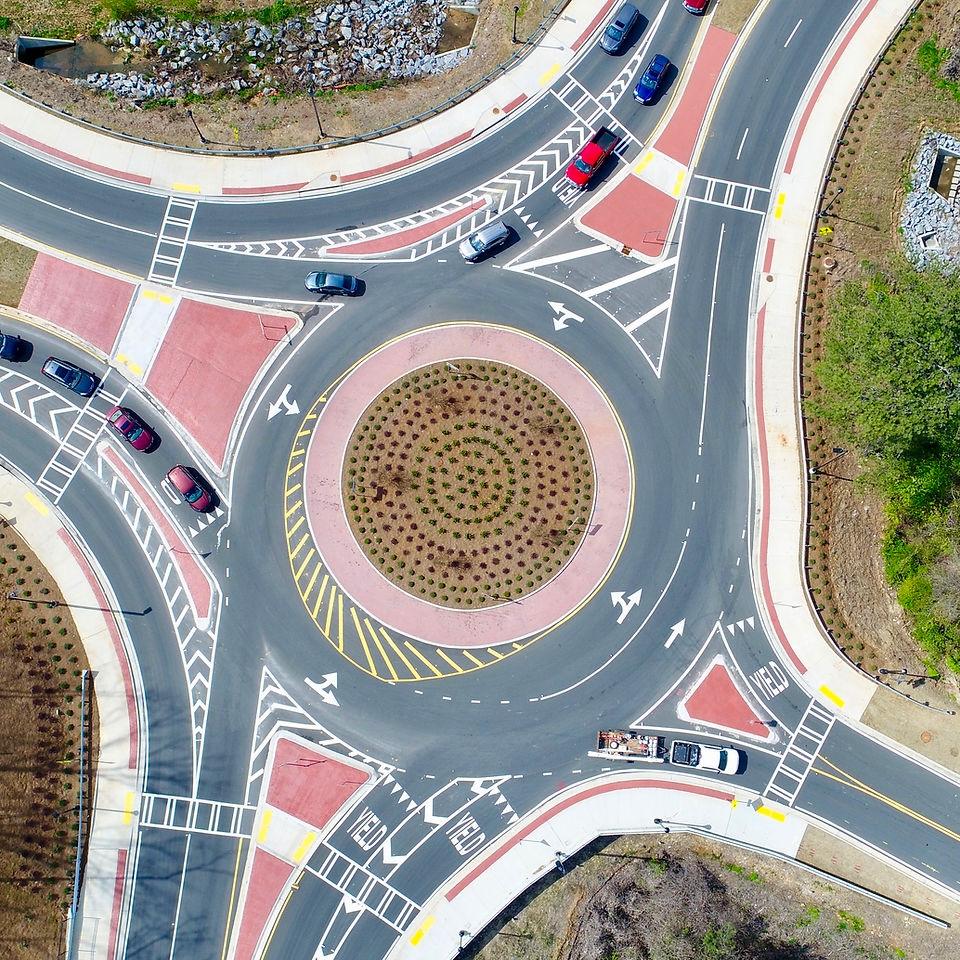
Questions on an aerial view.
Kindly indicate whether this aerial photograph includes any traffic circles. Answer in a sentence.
Yes, you can see a traffic circle in this photo.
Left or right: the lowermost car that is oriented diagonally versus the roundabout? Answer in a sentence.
Looking at the picture, you'll find the lowermost car that is oriented diagonally to the left of the roundabout.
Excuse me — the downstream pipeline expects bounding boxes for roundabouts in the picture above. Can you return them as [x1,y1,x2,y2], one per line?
[206,238,746,779]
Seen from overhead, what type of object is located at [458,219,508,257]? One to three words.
car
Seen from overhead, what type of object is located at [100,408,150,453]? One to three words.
car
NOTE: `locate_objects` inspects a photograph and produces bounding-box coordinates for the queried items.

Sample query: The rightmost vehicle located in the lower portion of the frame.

[670,742,742,775]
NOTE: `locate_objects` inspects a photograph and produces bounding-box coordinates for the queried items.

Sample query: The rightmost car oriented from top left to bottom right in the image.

[162,466,208,513]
